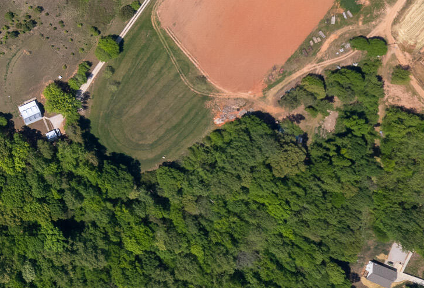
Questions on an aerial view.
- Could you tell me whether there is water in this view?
No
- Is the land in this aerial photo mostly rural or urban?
rural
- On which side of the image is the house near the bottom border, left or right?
right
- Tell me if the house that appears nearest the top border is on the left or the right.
left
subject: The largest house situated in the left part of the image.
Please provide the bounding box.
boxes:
[19,97,42,124]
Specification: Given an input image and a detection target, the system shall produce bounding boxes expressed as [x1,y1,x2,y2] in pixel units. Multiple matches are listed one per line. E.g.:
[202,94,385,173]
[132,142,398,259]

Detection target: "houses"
[362,261,394,288]
[19,97,42,124]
